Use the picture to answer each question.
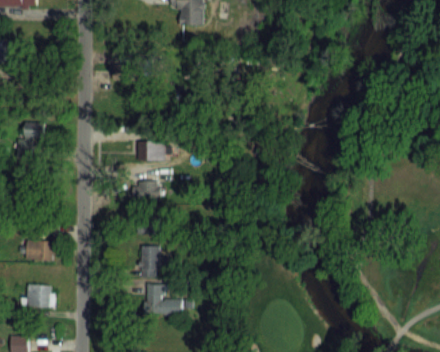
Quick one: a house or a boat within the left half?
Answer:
house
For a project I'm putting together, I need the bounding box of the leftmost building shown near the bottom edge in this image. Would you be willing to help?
[10,336,32,352]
